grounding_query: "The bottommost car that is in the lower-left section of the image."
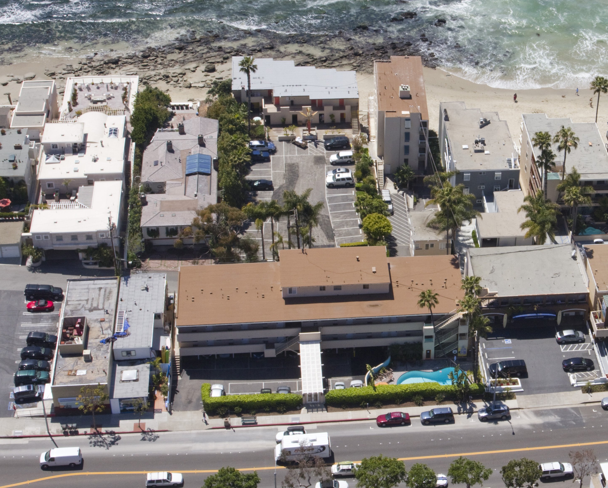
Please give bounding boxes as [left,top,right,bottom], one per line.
[146,470,182,487]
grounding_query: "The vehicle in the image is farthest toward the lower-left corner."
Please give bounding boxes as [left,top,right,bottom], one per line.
[39,446,83,468]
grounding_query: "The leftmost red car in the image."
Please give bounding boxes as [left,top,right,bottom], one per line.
[23,299,56,311]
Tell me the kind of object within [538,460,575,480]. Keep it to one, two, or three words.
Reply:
car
